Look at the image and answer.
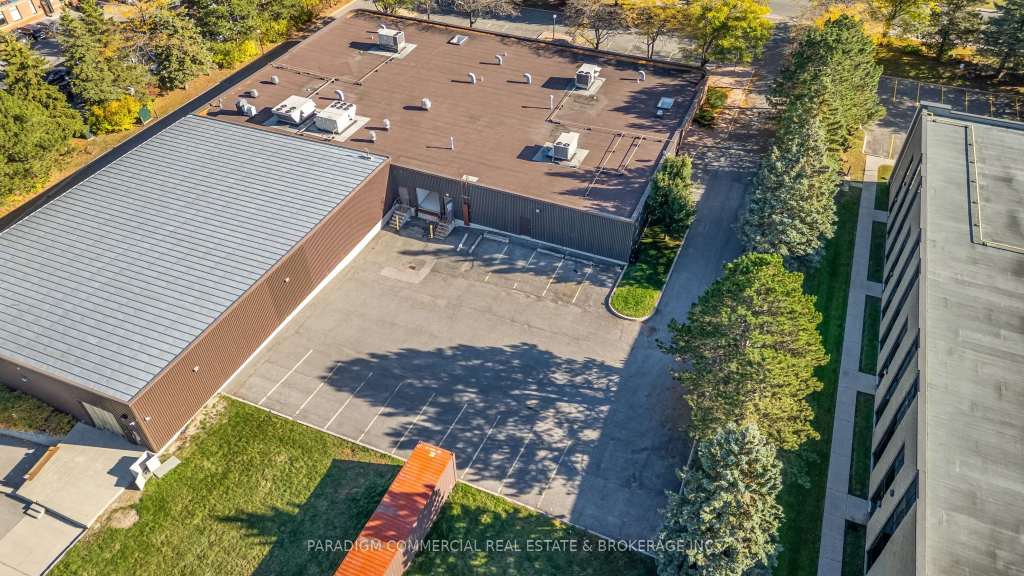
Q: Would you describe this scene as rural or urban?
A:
urban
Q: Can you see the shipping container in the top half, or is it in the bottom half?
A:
bottom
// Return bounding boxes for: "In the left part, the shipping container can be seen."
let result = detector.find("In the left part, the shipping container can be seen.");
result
[332,440,457,576]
